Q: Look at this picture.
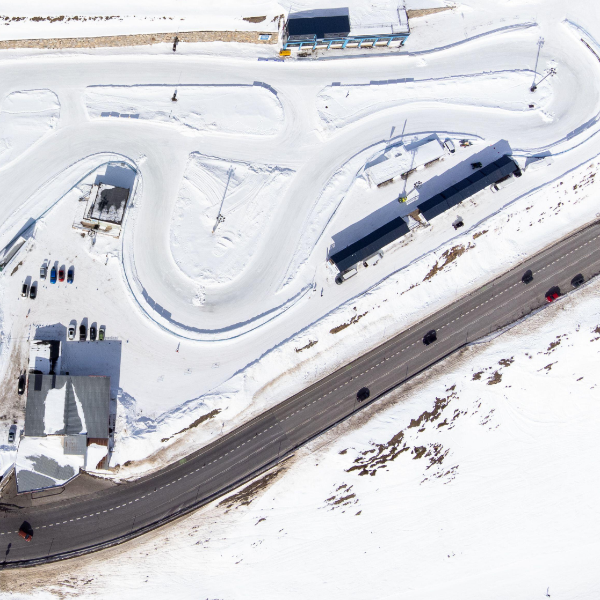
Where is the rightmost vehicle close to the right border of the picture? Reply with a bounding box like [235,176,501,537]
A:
[569,276,585,288]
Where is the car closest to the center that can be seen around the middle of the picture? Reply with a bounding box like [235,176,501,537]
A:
[336,269,356,284]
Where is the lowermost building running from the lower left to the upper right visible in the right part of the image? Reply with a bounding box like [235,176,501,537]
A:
[327,216,410,275]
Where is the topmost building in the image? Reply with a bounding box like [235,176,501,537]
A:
[281,7,411,49]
